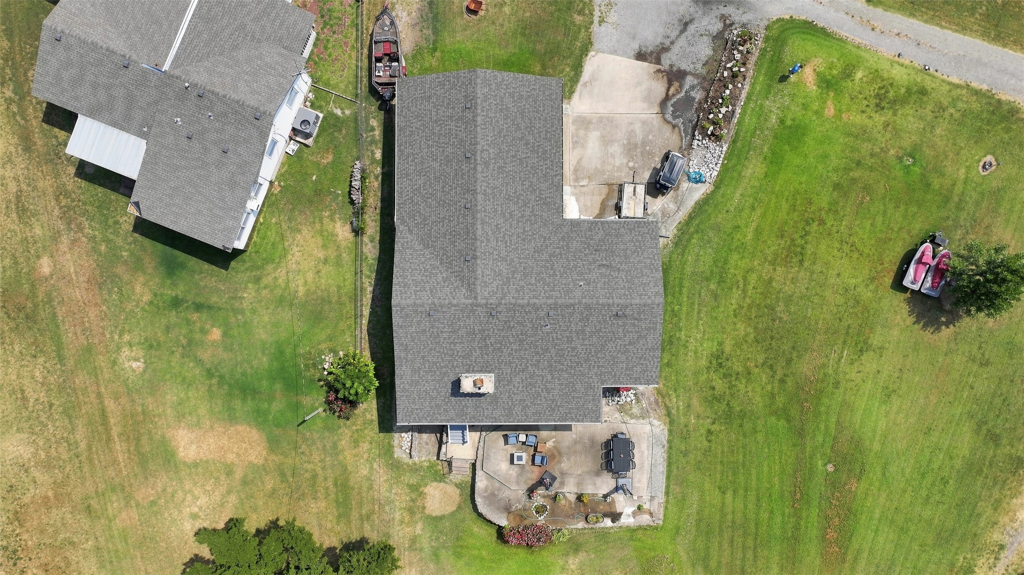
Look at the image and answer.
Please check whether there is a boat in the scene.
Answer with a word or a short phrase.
Yes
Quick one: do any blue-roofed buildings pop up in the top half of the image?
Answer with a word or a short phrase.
No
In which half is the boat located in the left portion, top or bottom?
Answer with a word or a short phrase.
top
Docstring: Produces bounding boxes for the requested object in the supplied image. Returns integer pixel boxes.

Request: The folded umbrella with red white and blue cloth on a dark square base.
[540,470,558,491]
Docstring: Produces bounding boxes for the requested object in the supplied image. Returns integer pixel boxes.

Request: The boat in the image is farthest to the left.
[372,6,402,110]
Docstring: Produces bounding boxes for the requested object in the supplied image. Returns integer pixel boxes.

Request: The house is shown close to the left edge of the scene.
[27,0,329,254]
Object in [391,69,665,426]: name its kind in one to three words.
house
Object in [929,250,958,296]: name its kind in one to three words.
vessel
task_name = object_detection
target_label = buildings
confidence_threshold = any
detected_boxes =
[391,69,665,426]
[27,0,329,254]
